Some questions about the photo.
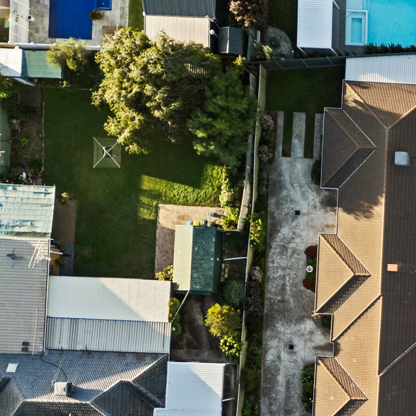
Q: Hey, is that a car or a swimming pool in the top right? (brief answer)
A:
swimming pool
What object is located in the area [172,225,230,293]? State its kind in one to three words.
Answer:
shed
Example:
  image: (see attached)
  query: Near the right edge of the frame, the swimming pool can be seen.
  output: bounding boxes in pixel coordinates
[346,0,416,47]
